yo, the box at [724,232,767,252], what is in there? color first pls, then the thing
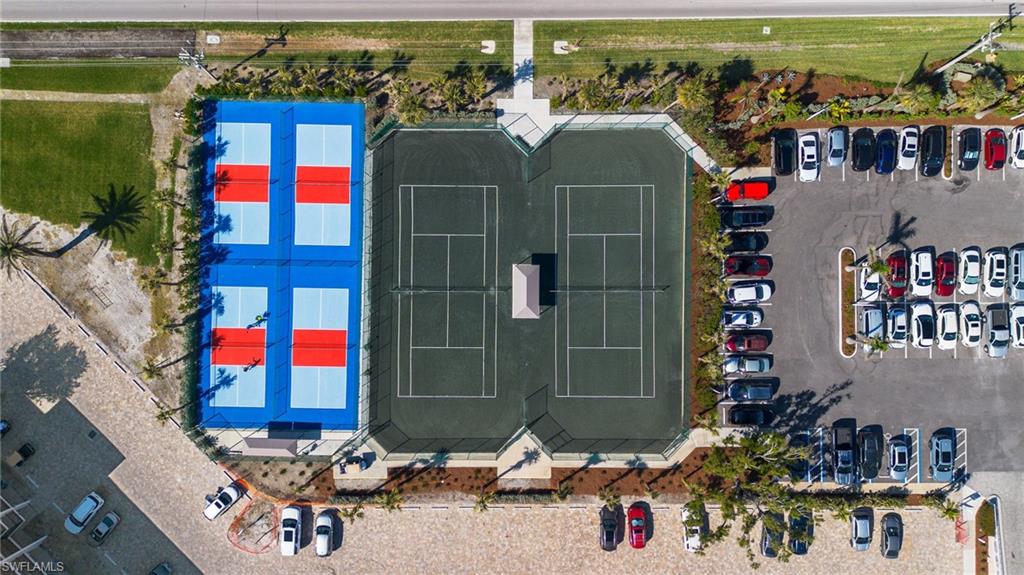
black car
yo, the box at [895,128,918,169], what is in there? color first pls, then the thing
white car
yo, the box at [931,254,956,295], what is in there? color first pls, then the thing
red car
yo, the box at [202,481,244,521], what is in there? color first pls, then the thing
white car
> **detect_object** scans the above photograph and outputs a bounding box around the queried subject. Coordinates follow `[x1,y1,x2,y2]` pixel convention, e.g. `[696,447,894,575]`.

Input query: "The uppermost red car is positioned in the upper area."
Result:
[981,129,1006,171]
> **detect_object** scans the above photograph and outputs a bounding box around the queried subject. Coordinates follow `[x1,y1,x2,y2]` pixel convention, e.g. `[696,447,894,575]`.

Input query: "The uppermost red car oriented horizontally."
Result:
[724,180,770,201]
